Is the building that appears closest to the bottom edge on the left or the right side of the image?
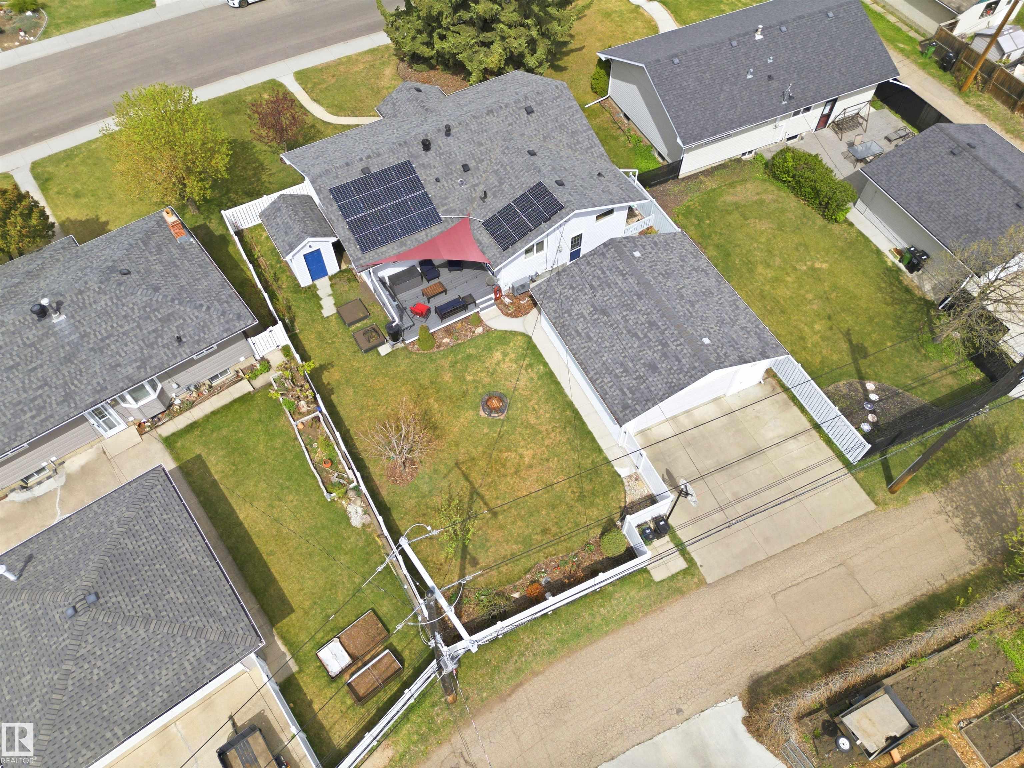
left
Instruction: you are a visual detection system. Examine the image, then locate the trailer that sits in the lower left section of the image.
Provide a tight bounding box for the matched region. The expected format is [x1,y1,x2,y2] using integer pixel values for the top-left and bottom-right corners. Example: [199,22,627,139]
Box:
[213,714,290,768]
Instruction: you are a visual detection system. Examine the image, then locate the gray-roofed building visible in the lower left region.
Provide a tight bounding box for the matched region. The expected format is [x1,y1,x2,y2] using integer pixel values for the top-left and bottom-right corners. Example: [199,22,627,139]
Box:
[0,461,270,768]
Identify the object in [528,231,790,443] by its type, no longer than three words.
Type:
building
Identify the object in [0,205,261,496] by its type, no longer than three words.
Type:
house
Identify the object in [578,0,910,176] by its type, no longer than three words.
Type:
house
